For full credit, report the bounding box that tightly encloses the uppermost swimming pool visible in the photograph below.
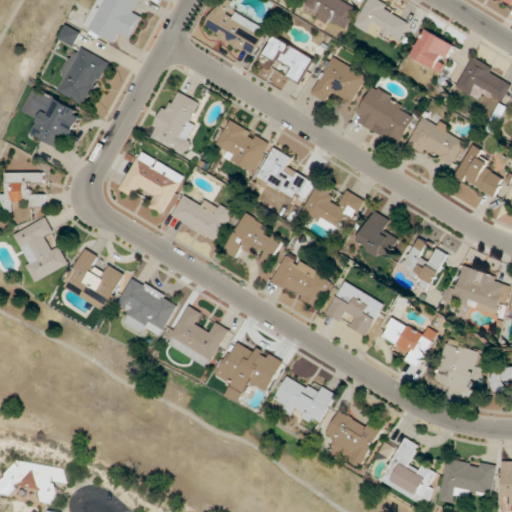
[231,0,271,24]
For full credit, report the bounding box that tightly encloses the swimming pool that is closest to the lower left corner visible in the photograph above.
[64,290,96,318]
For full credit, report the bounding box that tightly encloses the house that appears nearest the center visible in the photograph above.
[226,214,284,257]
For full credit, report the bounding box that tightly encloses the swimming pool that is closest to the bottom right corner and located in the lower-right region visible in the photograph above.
[372,459,386,480]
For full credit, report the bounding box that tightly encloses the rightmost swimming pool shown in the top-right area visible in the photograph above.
[450,120,472,138]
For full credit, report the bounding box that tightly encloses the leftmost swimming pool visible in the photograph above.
[0,242,20,271]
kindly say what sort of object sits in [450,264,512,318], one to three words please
house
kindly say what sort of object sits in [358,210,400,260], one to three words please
house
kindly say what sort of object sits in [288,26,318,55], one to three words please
swimming pool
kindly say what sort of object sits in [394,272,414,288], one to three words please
swimming pool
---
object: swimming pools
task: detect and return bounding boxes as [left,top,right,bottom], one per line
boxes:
[231,0,271,24]
[64,290,96,318]
[467,309,500,330]
[450,120,472,138]
[288,26,318,55]
[204,102,224,126]
[384,80,408,98]
[0,242,20,271]
[309,223,329,238]
[239,386,268,414]
[500,316,512,345]
[394,272,414,288]
[372,459,386,480]
[398,306,429,328]
[187,169,224,203]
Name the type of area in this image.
residential area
